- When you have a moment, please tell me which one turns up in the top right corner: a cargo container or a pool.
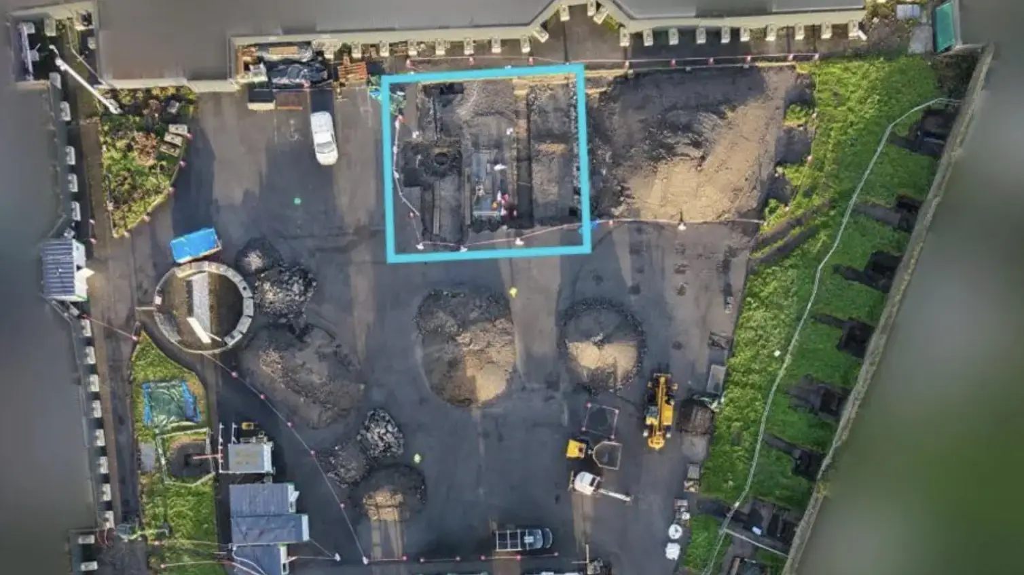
cargo container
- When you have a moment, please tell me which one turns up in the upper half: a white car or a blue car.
white car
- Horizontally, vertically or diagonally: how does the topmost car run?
vertically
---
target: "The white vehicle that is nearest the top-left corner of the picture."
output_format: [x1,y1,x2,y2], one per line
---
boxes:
[312,111,339,167]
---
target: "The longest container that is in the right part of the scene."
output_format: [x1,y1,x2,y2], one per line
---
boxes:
[924,1,954,61]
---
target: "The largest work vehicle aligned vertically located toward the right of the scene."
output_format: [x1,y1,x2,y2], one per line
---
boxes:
[642,369,678,448]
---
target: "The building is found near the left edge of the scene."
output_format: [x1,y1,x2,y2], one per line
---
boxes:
[42,238,99,302]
